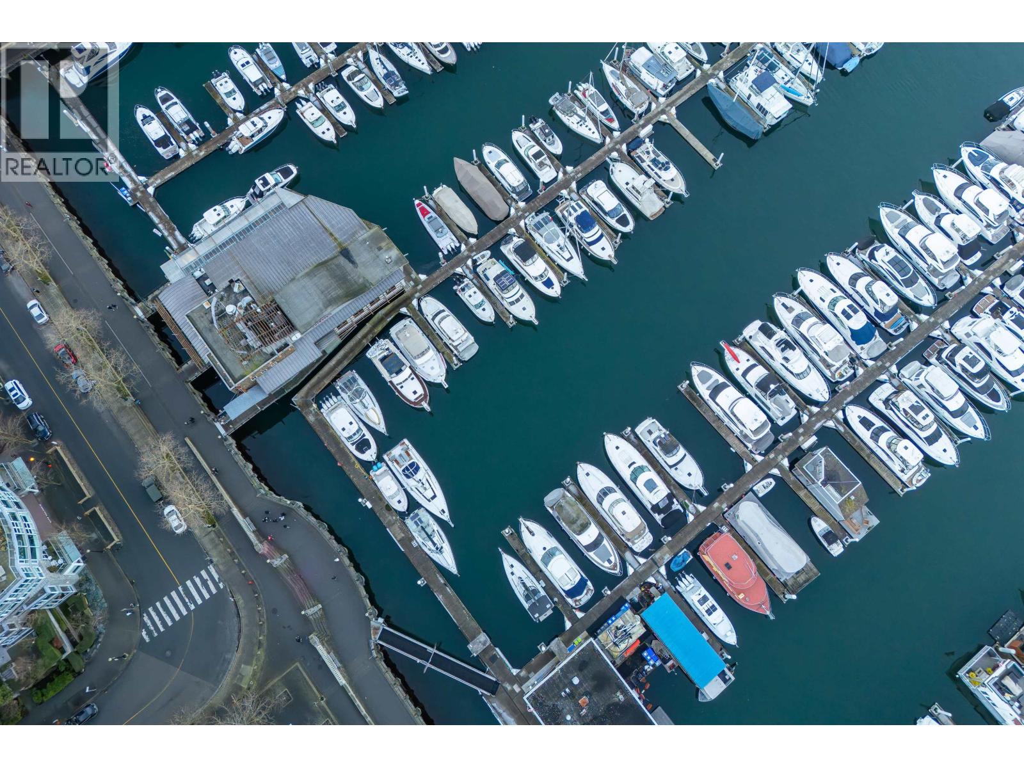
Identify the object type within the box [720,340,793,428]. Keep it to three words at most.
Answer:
boat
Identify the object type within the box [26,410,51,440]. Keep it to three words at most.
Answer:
car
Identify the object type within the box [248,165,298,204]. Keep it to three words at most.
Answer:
boat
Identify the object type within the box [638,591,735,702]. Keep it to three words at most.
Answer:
shed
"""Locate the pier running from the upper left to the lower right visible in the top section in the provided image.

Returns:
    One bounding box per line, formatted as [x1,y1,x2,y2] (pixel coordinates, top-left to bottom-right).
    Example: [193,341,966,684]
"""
[44,59,192,254]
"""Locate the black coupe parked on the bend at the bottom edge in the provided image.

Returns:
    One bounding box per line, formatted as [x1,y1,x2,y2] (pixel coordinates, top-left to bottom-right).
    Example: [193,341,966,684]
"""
[66,702,97,727]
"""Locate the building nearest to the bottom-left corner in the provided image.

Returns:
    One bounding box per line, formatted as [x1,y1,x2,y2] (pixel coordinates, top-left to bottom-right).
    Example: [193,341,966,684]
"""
[0,457,89,663]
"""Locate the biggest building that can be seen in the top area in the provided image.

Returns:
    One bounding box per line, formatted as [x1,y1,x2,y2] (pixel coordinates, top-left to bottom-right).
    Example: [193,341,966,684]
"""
[145,187,422,426]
